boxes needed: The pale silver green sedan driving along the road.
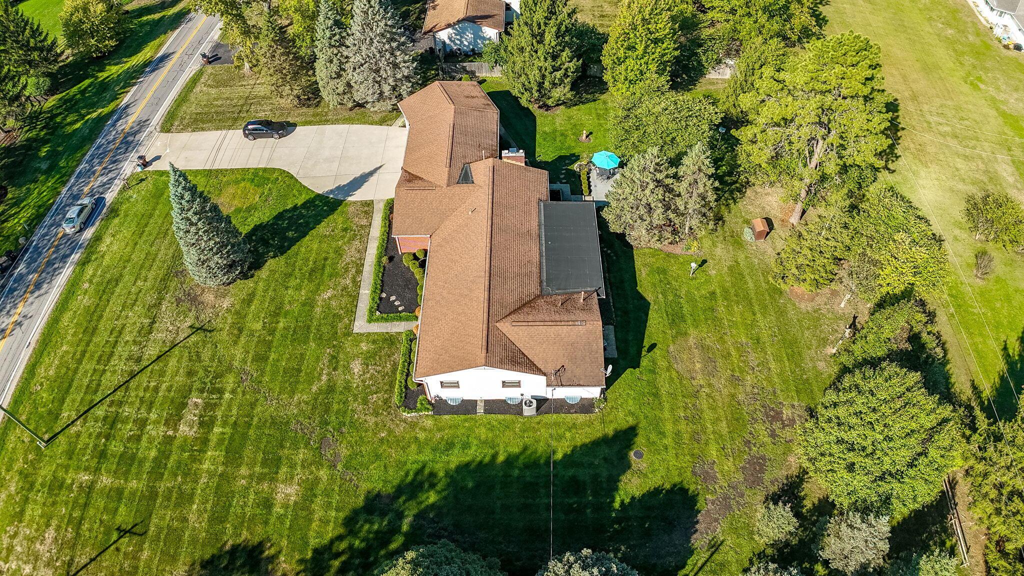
[52,192,96,233]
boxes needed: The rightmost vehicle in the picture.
[237,117,286,140]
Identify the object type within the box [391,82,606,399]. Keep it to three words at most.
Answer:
house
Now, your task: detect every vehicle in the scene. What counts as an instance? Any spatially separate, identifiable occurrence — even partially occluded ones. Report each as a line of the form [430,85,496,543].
[52,192,96,233]
[237,117,286,140]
